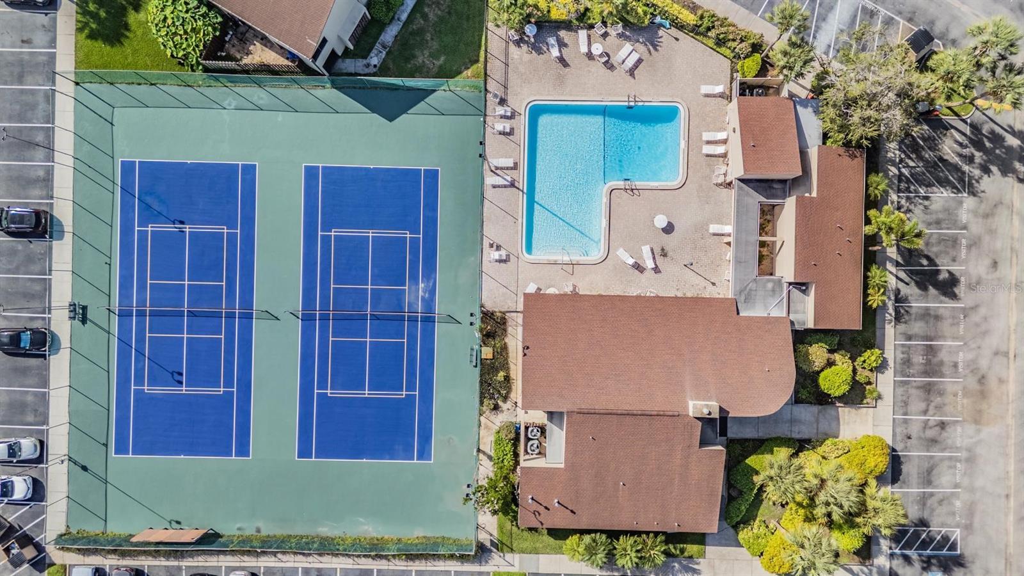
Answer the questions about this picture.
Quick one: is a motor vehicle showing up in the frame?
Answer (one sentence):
Yes, you can see a motor vehicle in this photo.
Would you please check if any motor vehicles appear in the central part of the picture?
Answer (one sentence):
No, in the central part of the picture there is no motor vehicle.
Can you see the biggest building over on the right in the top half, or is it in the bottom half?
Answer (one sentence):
Seen from above, the biggest building over on the right lies in the bottom half of the view.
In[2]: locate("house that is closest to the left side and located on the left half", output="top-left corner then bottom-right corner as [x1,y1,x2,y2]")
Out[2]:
[205,0,379,76]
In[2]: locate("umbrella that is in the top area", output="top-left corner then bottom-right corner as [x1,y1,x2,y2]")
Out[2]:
[654,14,675,29]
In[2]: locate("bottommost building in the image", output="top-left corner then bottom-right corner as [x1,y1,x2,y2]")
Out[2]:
[518,294,796,532]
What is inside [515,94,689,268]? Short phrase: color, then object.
blue swimming pool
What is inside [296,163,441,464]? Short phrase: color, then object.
blue tennis court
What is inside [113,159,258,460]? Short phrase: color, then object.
blue tennis court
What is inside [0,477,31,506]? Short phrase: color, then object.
white car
